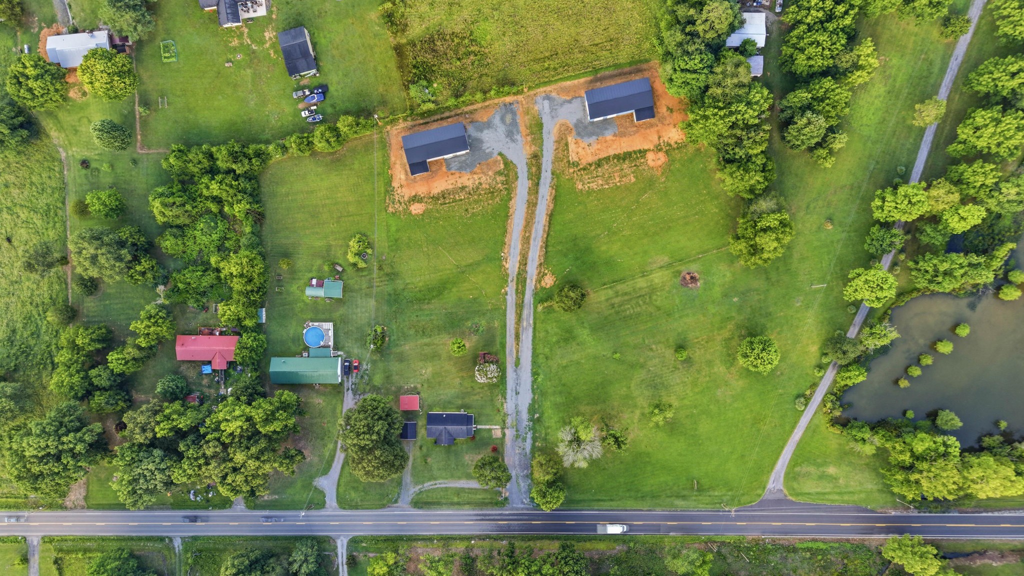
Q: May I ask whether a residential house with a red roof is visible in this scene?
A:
Yes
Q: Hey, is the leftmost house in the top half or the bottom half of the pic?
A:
top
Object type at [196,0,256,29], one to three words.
house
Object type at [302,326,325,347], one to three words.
swimming pool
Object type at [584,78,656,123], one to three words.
house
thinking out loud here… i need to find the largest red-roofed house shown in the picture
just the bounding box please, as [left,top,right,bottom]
[174,335,239,370]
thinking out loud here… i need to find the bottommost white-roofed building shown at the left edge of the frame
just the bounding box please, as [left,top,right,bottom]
[44,28,111,71]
